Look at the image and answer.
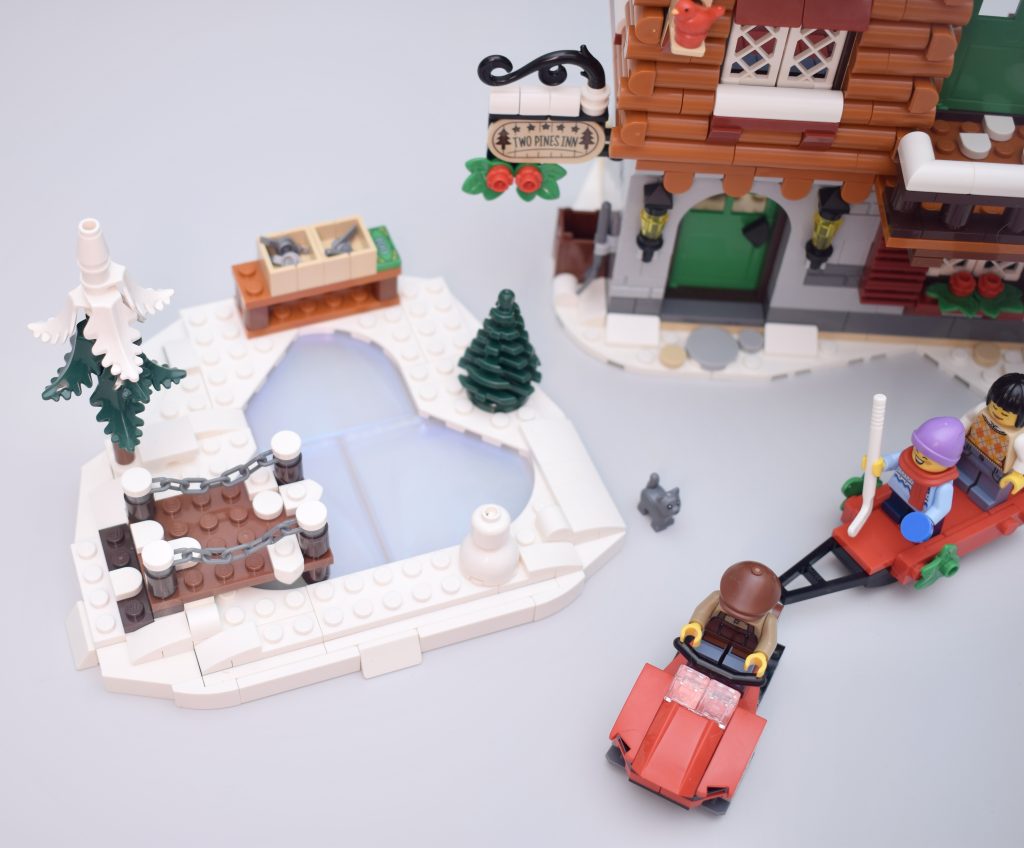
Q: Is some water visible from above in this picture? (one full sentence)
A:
Yes, water can be seen from above here.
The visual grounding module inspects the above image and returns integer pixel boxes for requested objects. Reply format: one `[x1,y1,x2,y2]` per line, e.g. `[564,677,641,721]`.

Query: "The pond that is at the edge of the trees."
[67,277,623,711]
